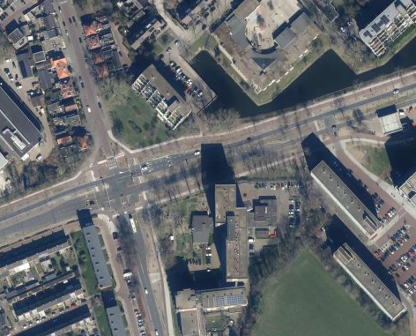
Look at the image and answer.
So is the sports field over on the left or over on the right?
right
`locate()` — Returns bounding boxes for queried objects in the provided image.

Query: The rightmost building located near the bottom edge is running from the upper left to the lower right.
[332,243,407,324]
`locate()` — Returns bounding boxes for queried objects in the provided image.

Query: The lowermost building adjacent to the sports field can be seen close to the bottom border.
[176,288,248,336]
